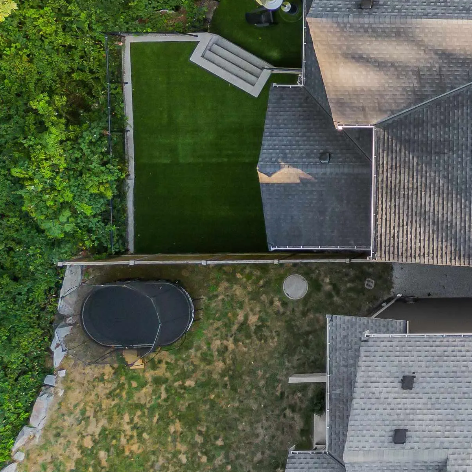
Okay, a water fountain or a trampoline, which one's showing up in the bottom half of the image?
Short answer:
trampoline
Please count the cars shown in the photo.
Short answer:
0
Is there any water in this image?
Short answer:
No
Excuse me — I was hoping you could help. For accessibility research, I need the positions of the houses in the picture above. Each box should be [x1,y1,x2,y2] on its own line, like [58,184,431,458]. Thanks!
[284,281,472,472]
[256,0,472,266]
